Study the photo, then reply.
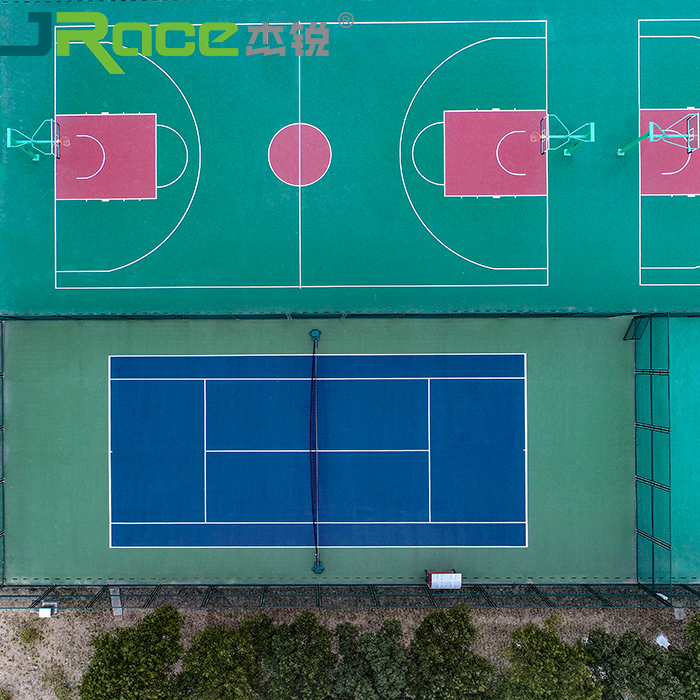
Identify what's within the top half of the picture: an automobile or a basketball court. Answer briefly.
basketball court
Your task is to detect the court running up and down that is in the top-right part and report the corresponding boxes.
[639,18,700,285]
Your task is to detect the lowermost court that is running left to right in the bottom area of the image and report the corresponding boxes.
[0,315,637,586]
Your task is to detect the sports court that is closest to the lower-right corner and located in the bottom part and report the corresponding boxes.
[636,317,700,584]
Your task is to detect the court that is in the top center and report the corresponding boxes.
[54,21,549,290]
